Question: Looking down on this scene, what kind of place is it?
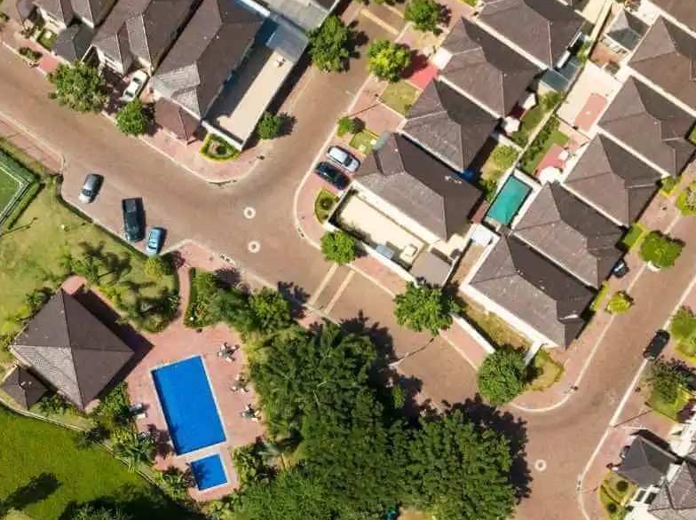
residential area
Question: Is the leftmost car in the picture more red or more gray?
gray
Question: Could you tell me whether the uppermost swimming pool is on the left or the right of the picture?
right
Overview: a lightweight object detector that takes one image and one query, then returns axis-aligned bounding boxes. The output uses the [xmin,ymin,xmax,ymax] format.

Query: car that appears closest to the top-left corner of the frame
[121,71,147,102]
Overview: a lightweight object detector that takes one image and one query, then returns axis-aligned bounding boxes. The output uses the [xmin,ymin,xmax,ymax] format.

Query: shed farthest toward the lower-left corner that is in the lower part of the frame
[0,365,47,409]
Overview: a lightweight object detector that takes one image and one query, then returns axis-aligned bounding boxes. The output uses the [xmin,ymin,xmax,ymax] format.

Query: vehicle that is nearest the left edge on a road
[80,173,102,205]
